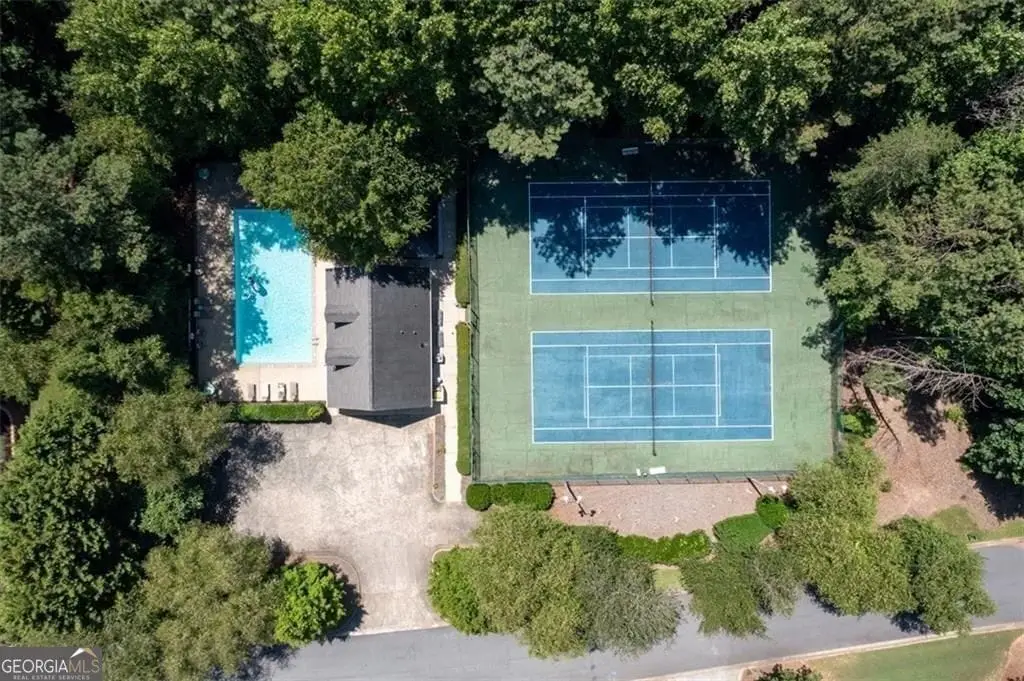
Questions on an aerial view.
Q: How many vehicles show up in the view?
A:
zero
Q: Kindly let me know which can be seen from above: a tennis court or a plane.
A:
tennis court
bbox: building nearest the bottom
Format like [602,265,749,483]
[324,264,433,410]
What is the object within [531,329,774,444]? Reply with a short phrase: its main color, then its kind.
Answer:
blue tennis court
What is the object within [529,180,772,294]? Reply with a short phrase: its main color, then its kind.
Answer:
blue tennis court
